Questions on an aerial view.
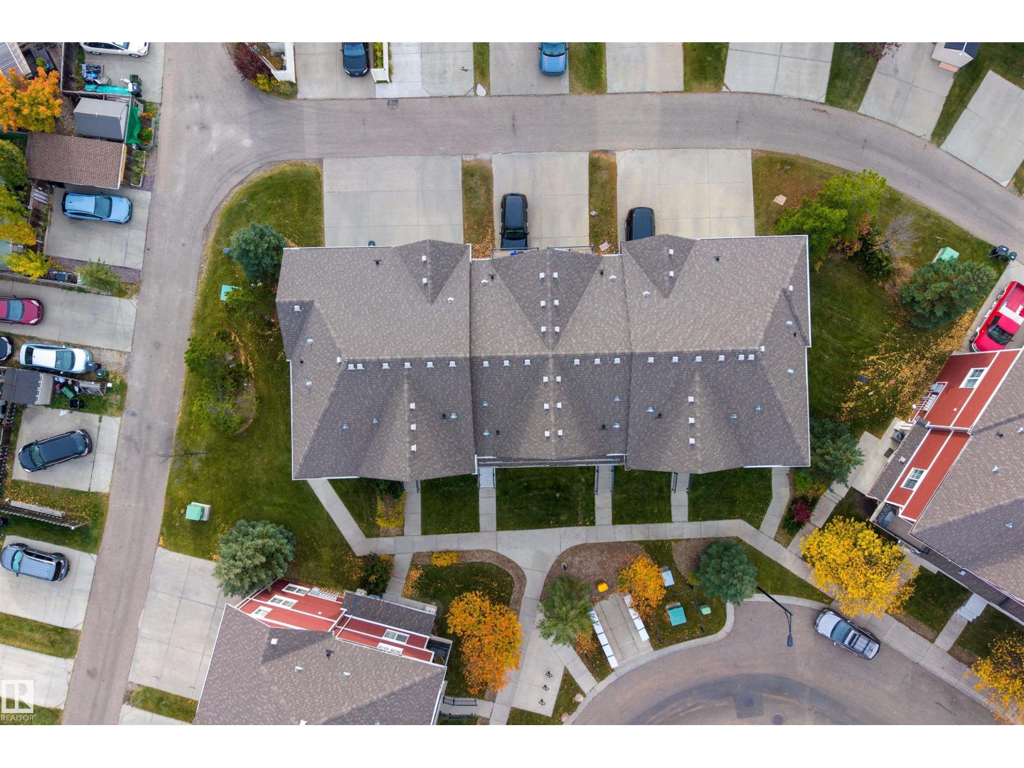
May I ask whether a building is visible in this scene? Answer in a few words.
Yes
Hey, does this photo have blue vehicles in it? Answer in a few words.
Yes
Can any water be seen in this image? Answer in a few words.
No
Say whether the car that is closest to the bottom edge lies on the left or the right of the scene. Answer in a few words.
right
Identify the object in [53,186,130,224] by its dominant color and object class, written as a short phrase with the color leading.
blue car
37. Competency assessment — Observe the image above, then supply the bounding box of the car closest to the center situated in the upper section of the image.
[497,186,532,253]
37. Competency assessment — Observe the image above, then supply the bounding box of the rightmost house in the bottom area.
[848,344,1024,627]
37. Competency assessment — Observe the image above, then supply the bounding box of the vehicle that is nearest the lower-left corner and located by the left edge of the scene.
[0,543,69,585]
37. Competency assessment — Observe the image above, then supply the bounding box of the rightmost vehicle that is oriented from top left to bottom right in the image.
[814,606,890,667]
